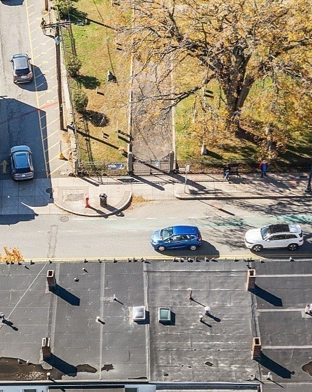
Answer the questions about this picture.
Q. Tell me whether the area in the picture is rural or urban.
urban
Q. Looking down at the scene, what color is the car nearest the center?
blue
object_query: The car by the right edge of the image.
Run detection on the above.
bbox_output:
[243,223,305,251]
